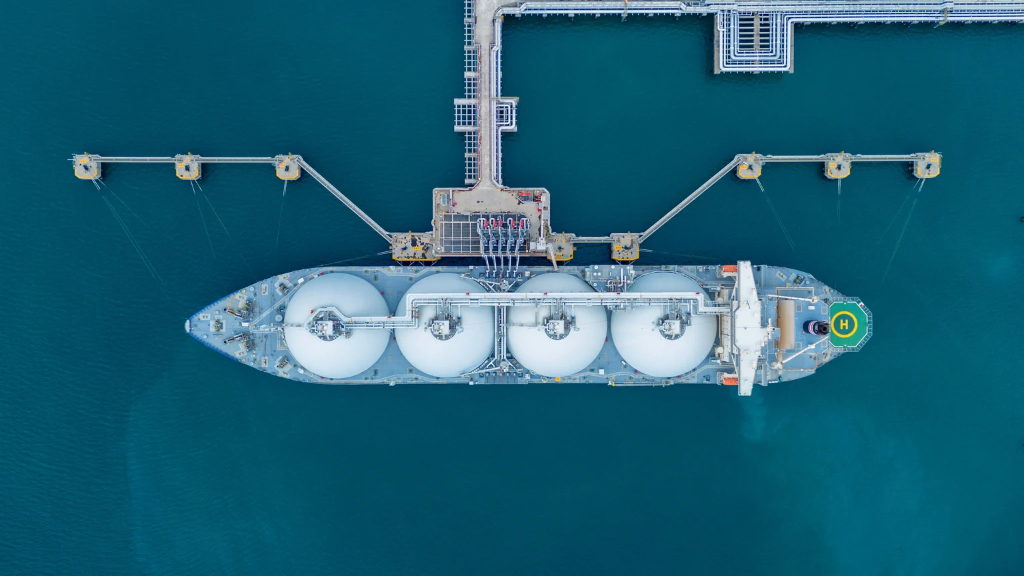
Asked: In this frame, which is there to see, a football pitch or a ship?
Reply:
ship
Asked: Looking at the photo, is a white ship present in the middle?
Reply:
Yes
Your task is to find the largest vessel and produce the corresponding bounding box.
[185,261,873,396]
